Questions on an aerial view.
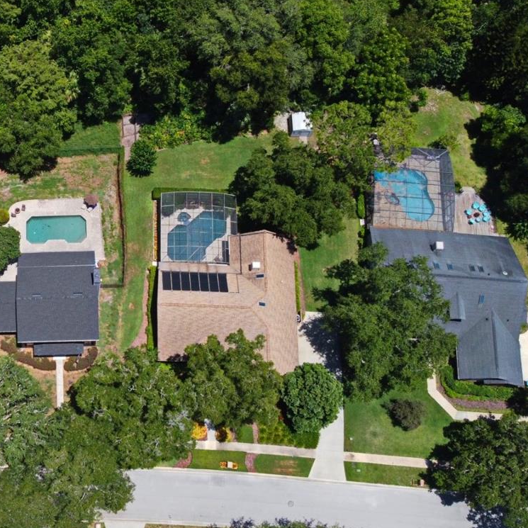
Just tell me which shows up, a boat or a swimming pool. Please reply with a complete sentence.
Looking from above, you can make out a swimming pool.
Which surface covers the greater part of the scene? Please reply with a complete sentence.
For the most part, this view shows trees.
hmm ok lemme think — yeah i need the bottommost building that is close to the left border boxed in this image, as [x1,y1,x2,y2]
[0,251,100,359]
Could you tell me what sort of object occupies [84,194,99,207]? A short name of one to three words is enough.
umbrella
